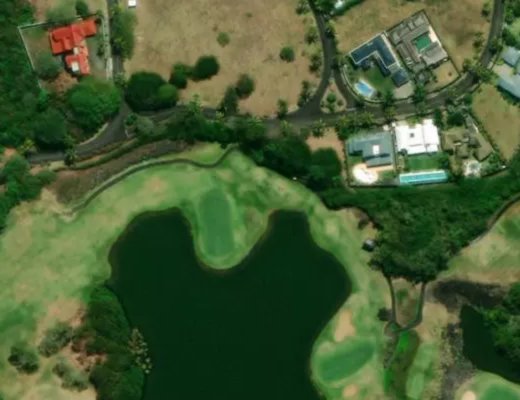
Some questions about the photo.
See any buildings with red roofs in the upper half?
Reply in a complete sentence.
Yes, a building with a red roof is visible in the upper half.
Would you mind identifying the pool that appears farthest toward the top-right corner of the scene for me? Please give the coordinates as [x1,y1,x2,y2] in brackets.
[413,32,432,51]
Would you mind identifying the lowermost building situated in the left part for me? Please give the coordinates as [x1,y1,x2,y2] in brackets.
[48,18,98,75]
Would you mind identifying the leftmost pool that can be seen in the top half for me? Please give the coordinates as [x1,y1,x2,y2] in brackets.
[351,80,375,97]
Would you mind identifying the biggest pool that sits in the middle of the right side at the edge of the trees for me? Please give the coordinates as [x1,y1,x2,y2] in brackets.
[400,170,447,185]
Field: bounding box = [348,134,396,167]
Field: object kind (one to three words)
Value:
house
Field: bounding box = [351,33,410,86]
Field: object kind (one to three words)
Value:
house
